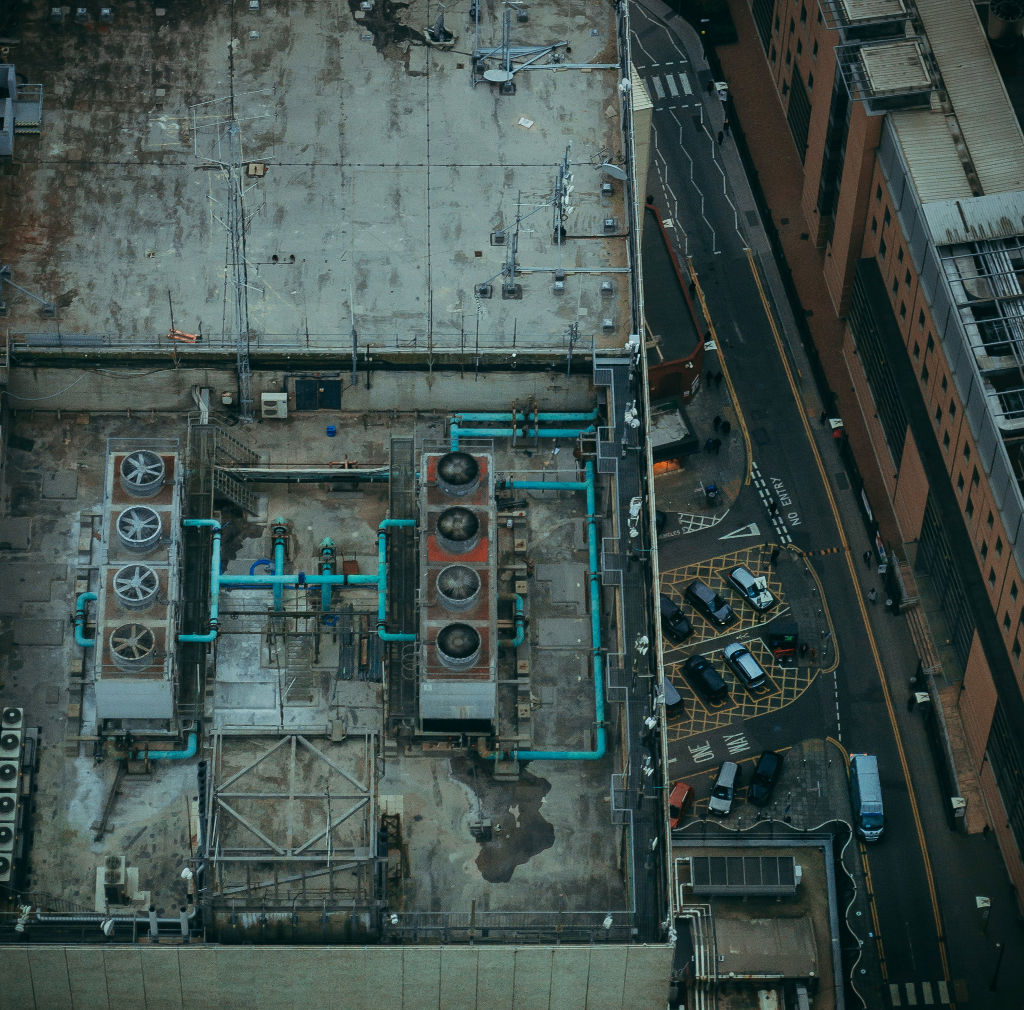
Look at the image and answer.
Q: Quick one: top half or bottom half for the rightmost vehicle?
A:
bottom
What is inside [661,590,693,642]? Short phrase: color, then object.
black car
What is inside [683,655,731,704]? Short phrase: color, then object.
black car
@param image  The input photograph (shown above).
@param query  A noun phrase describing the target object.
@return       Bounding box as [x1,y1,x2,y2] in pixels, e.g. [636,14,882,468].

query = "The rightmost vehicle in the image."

[851,753,887,840]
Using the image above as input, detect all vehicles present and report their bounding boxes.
[708,762,741,816]
[665,672,687,716]
[728,566,774,612]
[661,590,693,642]
[722,644,769,693]
[683,655,731,704]
[672,781,695,829]
[851,753,887,840]
[656,506,678,533]
[684,577,735,628]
